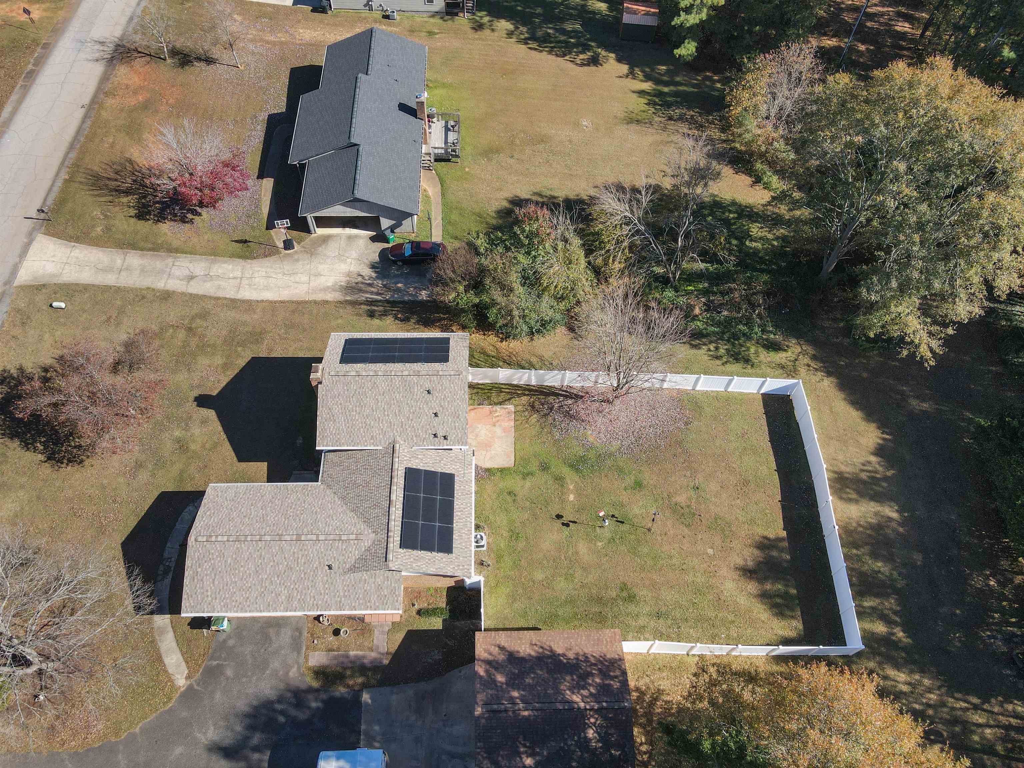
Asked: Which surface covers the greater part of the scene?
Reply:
grass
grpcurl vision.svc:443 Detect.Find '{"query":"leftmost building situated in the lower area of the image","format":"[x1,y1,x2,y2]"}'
[181,331,477,622]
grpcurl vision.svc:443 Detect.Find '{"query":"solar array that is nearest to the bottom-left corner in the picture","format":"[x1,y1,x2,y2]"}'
[401,467,455,553]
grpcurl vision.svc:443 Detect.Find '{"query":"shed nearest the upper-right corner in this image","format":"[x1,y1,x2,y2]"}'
[619,2,658,45]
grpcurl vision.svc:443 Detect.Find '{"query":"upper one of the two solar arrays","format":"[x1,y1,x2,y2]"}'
[339,336,451,362]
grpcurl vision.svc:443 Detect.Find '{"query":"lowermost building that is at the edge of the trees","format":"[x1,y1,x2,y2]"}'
[475,629,634,768]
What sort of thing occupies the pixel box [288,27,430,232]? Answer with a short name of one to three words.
house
